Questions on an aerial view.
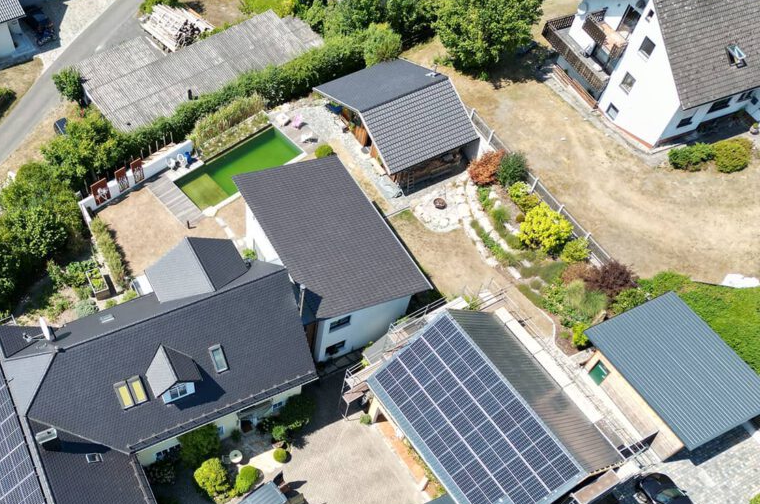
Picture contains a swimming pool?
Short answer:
Yes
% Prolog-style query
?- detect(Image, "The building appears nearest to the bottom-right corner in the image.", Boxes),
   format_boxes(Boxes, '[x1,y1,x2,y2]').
[573,291,760,463]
